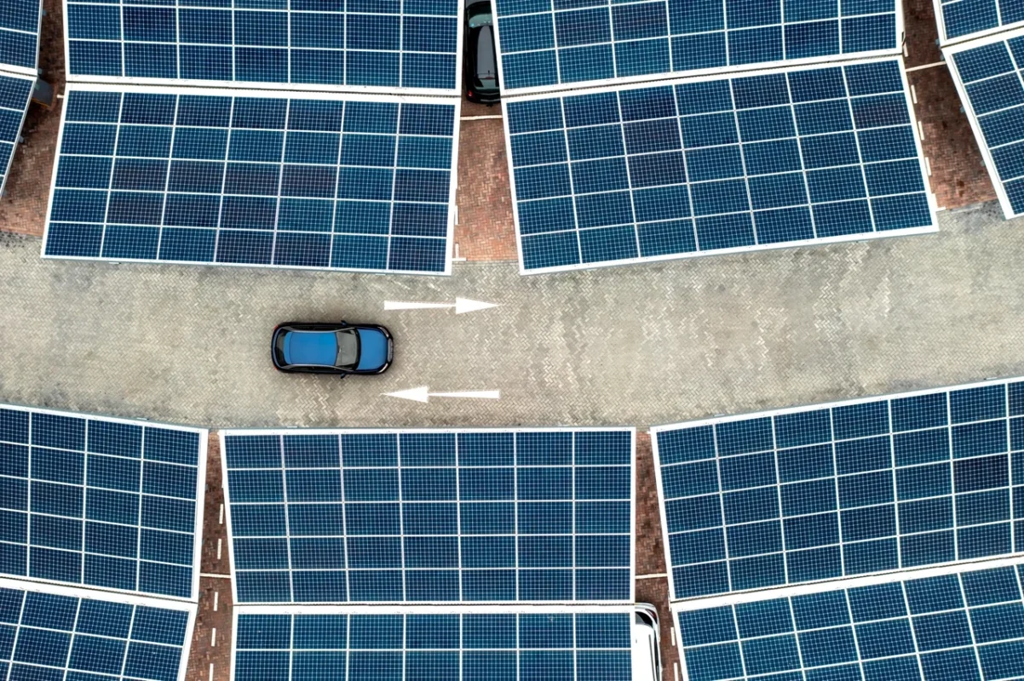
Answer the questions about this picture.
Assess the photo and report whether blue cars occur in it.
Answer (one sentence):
Yes, this view includes a blue car.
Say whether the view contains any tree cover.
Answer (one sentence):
No, tree cover can't be seen anywhere here.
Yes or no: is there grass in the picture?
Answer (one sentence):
No, the scene doesn't show any grass.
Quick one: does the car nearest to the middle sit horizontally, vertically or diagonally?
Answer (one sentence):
The car nearest to the middle runs horizontally in the image.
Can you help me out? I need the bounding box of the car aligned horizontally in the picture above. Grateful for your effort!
[270,317,394,378]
